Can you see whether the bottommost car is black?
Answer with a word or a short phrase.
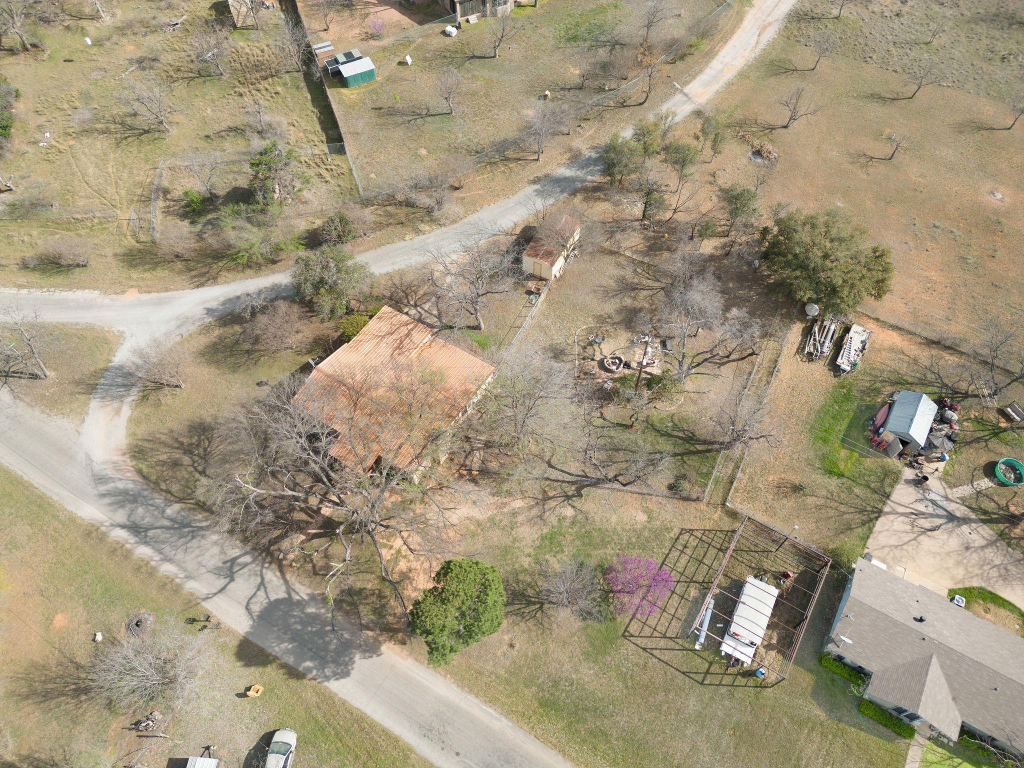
No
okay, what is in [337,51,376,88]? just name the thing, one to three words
shed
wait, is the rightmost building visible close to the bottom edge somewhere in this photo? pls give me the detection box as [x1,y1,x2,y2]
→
[821,554,1024,760]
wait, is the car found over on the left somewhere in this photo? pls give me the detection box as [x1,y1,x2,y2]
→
[265,732,301,768]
